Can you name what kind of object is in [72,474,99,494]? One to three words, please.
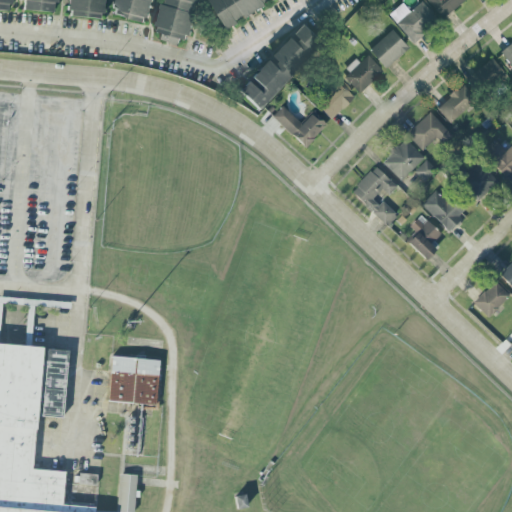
shed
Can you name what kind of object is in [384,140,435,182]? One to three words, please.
house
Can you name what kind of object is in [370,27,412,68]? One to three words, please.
house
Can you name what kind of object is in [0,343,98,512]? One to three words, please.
building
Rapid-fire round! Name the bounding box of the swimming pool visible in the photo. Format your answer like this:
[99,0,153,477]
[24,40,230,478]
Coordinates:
[288,90,306,118]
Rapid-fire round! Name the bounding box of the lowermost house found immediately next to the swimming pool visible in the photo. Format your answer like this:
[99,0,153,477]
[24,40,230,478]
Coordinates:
[274,104,330,147]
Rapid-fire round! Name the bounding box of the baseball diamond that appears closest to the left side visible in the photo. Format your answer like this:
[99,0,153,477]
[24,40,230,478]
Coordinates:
[102,109,240,252]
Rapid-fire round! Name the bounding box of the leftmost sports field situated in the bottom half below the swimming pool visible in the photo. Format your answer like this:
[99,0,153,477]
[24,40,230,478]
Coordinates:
[180,203,350,452]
